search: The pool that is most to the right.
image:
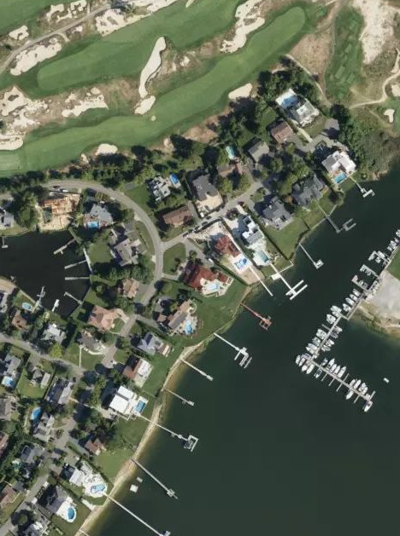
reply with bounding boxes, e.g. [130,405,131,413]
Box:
[330,169,350,187]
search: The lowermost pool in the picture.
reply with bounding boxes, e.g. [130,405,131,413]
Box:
[59,496,77,523]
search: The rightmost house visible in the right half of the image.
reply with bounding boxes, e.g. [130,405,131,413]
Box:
[326,148,358,177]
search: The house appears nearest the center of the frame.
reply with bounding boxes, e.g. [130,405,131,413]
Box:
[181,259,224,290]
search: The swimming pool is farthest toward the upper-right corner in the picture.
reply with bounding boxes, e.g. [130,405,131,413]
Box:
[281,90,301,108]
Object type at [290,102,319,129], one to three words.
house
